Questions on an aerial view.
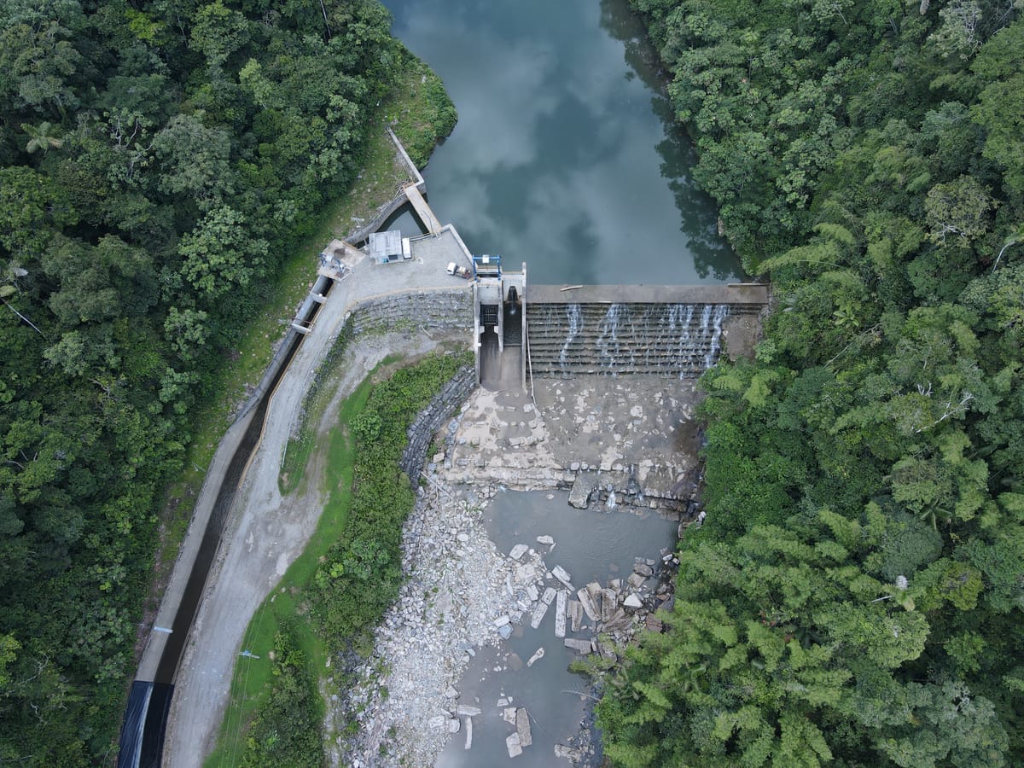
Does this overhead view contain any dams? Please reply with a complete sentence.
Yes, you can see a dam in this photo.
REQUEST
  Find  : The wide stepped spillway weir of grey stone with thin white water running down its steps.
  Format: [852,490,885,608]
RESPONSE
[526,284,771,375]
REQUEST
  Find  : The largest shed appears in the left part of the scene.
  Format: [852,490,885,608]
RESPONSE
[369,229,405,269]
